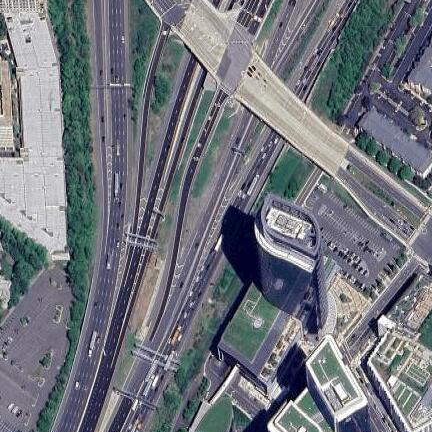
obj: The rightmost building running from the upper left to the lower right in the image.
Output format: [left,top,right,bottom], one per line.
[359,108,432,179]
